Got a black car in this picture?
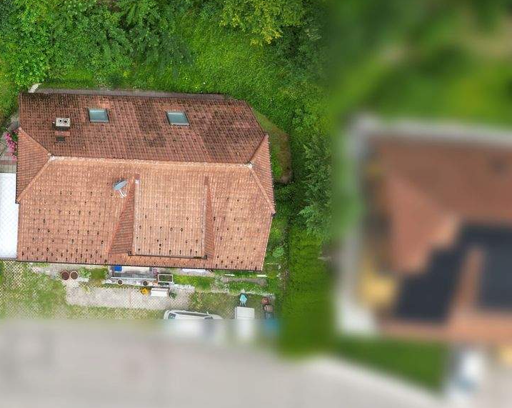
No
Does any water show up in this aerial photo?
No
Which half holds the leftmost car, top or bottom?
bottom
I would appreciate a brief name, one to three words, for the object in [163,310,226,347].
car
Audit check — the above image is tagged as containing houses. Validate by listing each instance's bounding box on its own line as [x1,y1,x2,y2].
[13,90,277,272]
[357,133,512,350]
